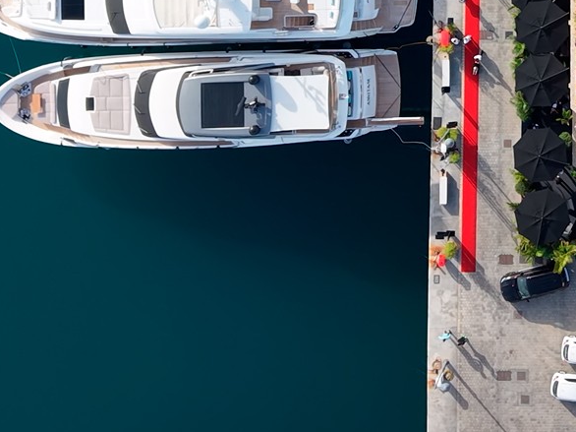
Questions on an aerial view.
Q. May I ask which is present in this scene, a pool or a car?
car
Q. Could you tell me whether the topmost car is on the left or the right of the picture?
right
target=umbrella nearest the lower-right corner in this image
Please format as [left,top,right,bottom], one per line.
[515,192,569,245]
